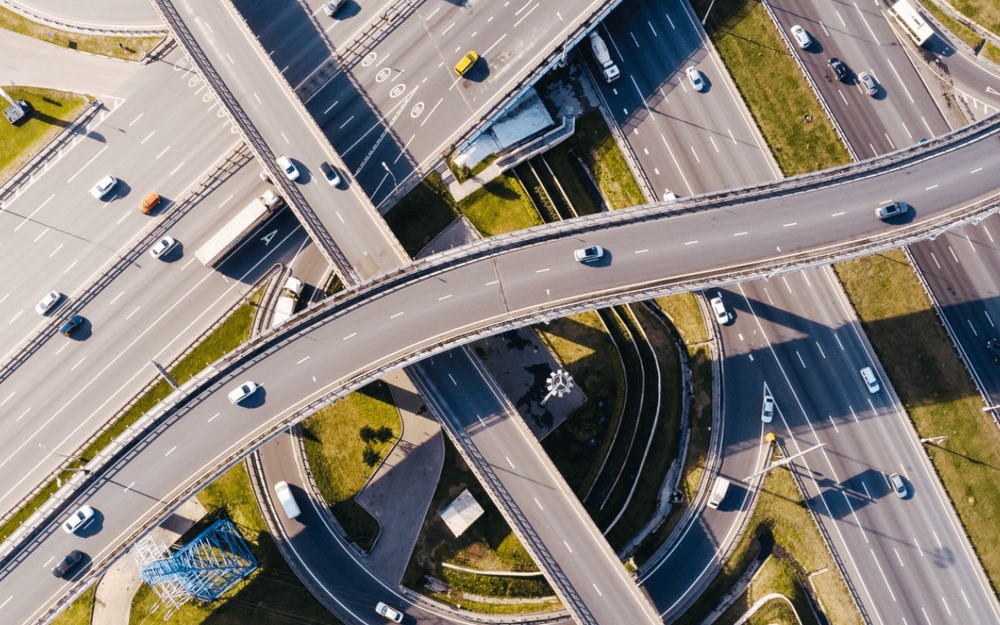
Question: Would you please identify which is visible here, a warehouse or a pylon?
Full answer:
Visible in the photo is a pylon.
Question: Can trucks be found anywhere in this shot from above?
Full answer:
Yes, the image includes a truck.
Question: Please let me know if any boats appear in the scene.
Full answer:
No, no boat is visible in the view.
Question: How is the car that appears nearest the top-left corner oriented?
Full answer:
The car that appears nearest the top-left corner runs on a diagonal in the image.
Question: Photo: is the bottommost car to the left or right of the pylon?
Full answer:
It is on the right side of the pylon that the bottommost car is positioned.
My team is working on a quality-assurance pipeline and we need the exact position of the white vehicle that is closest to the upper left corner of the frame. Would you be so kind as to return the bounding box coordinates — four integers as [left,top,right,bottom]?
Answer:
[87,172,116,200]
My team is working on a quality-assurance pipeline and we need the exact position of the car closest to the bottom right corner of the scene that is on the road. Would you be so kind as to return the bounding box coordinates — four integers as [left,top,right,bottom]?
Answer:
[888,471,910,503]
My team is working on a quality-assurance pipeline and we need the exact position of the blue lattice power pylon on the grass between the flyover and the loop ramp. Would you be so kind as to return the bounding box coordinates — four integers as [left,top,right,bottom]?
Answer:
[127,514,263,618]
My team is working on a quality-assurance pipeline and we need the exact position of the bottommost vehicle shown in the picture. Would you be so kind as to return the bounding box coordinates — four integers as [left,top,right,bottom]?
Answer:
[373,601,405,625]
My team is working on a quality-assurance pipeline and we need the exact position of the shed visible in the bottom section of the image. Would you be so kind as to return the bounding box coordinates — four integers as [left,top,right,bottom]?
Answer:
[440,489,483,538]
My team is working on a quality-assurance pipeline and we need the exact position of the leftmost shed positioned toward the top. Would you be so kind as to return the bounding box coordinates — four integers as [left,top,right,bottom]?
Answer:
[453,132,501,170]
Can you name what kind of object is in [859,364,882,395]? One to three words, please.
car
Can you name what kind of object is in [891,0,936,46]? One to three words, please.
bus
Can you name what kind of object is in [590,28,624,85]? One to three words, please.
truck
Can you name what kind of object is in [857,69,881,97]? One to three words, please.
car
